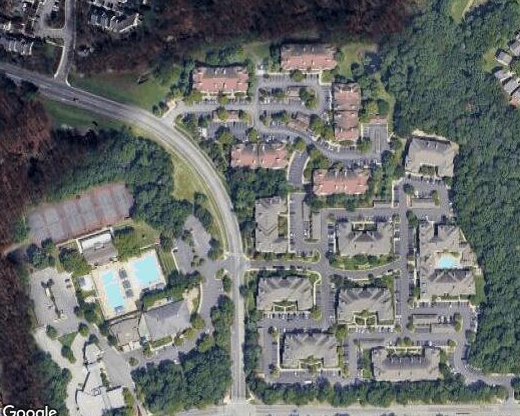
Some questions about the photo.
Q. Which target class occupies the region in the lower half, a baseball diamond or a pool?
pool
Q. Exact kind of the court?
tennis court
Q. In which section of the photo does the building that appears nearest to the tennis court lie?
left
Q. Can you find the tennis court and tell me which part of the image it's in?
left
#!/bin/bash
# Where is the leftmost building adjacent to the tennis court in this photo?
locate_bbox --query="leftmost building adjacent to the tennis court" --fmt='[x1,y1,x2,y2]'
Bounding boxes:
[81,233,118,265]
